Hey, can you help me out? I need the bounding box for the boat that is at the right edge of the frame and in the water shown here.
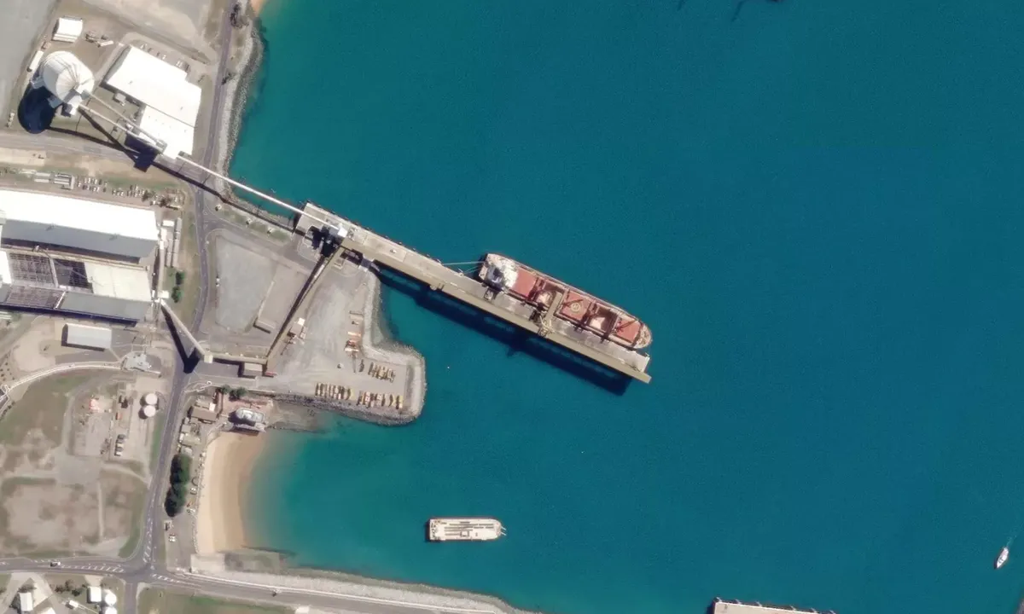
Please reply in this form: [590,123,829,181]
[997,548,1009,569]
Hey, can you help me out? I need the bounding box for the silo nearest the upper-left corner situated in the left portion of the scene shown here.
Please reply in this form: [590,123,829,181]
[42,51,93,104]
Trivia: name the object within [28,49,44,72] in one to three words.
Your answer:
vehicle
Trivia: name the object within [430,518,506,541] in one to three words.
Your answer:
ship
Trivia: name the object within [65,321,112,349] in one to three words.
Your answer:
shed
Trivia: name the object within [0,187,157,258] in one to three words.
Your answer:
building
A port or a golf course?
port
